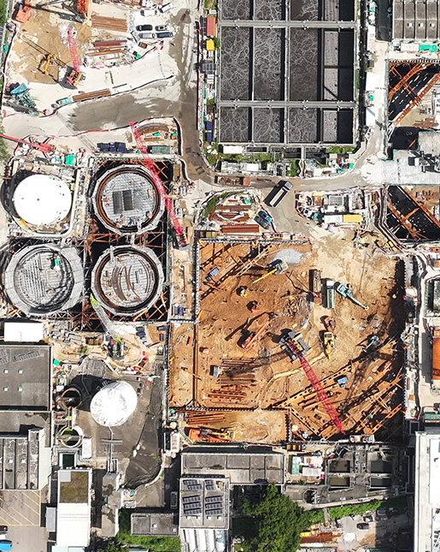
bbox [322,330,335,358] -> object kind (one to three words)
vehicle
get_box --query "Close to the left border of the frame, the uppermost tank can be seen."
[11,169,81,230]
